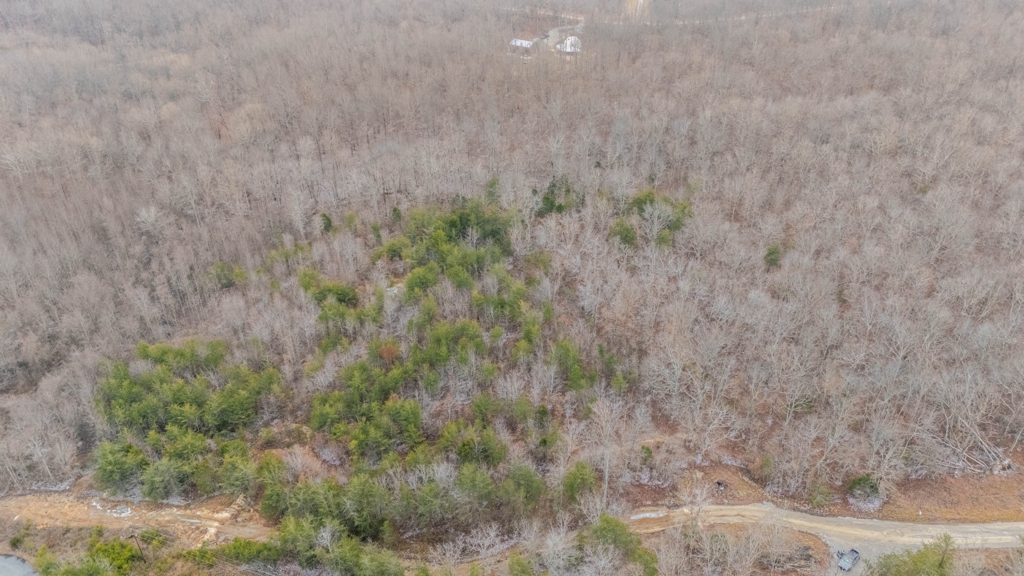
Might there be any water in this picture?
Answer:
No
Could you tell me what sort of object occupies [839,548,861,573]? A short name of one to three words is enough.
truck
